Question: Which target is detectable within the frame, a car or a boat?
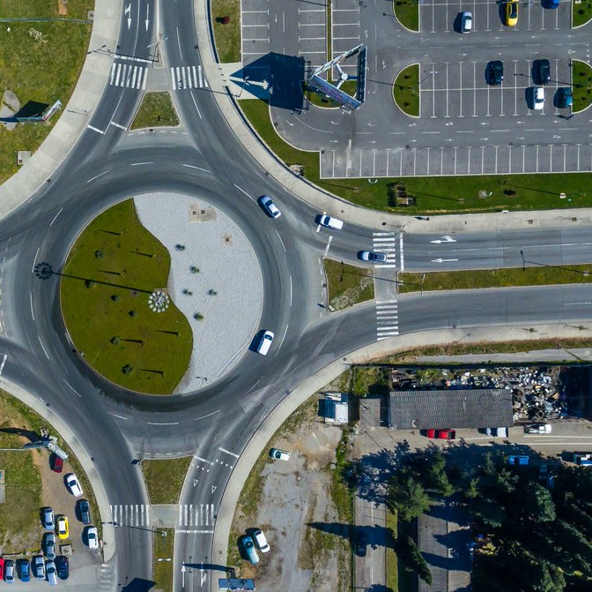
car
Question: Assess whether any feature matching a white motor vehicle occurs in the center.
Yes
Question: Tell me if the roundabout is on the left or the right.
left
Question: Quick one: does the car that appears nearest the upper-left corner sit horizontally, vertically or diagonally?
diagonally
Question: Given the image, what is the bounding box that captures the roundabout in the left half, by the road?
[0,129,323,453]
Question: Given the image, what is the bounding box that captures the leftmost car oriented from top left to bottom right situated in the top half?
[258,195,282,220]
